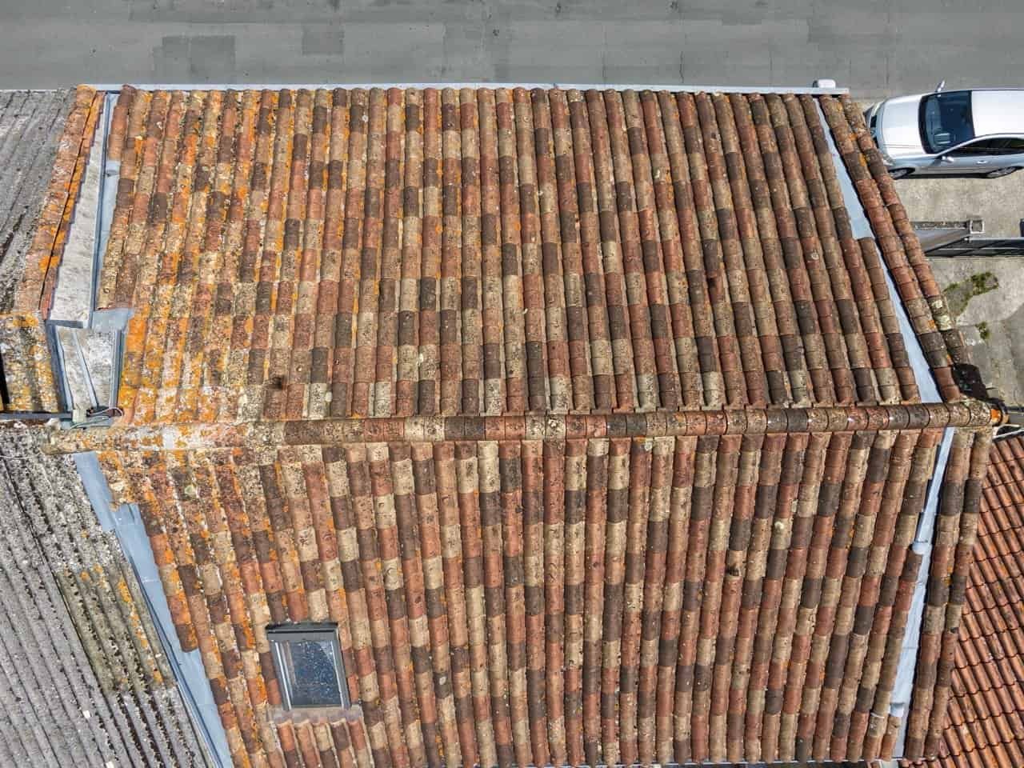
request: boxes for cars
[860,85,1024,176]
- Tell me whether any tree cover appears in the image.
No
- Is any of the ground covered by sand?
No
